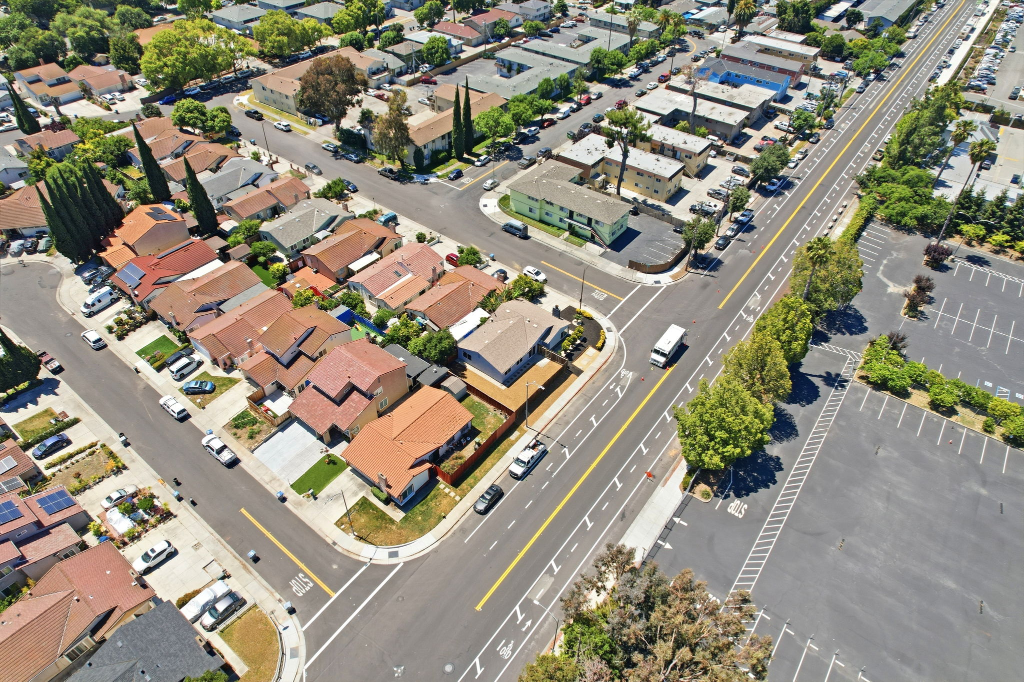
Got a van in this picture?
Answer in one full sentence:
Yes, looking at the shot, I can spot a van.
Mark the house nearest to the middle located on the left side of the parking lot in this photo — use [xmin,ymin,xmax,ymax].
[458,299,571,381]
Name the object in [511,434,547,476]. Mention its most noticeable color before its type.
white truck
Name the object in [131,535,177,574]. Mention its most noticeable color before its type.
white car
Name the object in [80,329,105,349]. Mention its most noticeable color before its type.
white car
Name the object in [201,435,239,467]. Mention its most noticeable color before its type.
white truck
